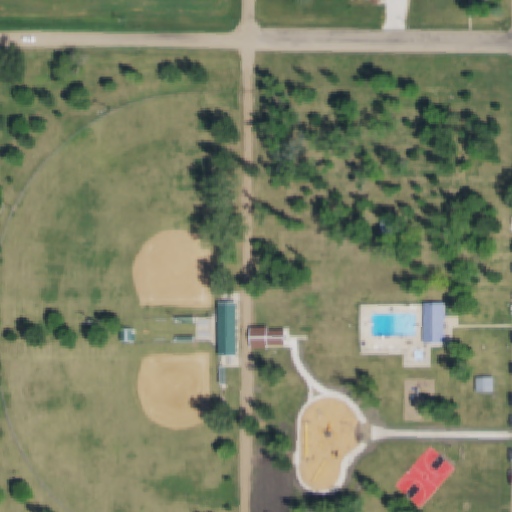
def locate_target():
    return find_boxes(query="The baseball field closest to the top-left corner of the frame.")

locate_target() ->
[0,92,213,326]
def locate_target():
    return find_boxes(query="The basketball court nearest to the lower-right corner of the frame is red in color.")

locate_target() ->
[397,448,454,508]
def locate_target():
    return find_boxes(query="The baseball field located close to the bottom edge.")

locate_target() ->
[0,326,213,512]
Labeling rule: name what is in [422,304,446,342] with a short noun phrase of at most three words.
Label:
building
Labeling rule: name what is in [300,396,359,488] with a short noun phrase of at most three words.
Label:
playground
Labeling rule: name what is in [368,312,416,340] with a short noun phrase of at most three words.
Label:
swimming pool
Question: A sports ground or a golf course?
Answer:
sports ground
